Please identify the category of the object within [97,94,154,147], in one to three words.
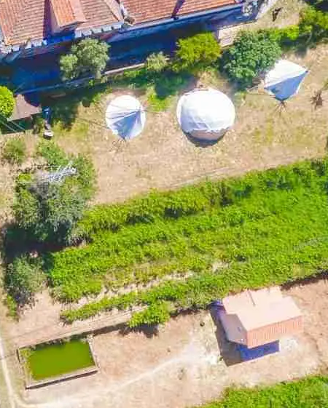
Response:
tent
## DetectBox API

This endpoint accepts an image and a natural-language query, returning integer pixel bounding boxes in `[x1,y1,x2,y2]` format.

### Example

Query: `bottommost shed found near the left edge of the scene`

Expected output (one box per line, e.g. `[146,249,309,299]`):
[7,90,43,120]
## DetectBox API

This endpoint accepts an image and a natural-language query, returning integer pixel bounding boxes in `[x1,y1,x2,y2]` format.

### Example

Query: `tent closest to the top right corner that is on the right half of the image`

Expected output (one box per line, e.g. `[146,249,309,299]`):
[255,53,312,102]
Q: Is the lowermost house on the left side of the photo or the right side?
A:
right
